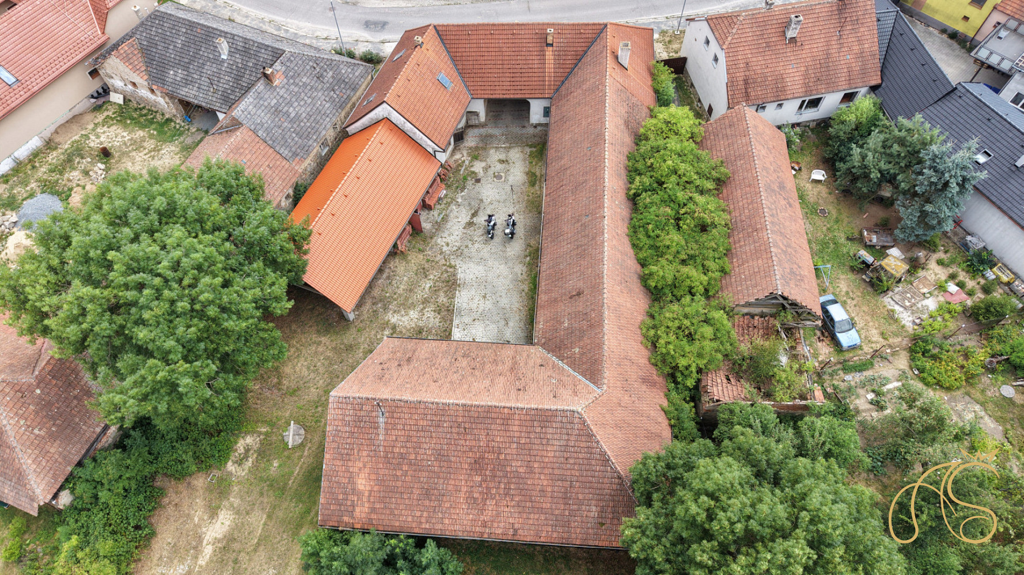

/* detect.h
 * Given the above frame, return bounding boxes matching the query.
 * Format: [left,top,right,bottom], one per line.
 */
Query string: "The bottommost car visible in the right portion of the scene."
[818,292,867,356]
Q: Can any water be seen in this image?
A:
No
